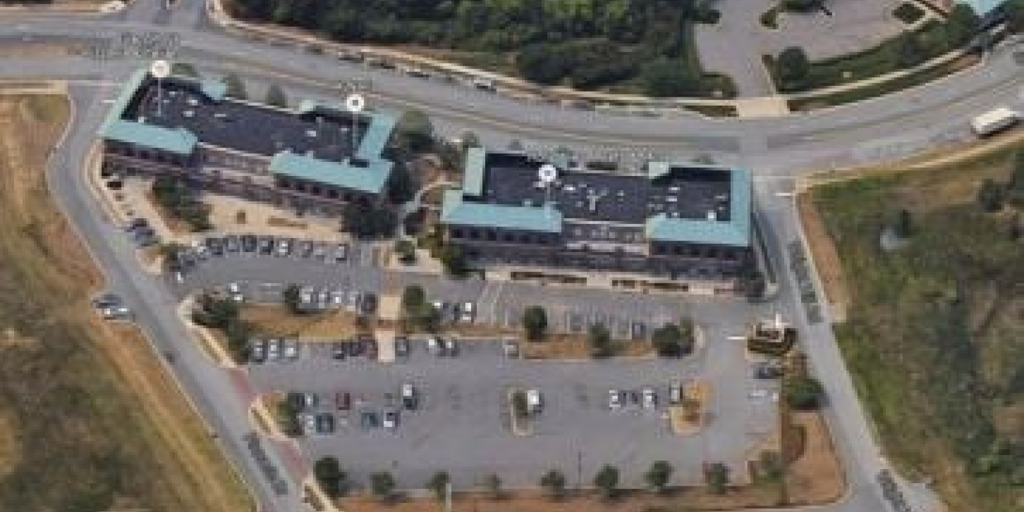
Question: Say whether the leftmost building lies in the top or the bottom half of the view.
top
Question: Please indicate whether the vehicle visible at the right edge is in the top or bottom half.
top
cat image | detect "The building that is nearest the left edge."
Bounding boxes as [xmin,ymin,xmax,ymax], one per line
[102,69,404,220]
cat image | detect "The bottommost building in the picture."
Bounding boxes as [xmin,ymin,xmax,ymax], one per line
[442,146,751,283]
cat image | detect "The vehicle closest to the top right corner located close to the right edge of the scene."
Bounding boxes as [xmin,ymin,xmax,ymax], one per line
[973,107,1018,135]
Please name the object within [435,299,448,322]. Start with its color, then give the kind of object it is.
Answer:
gray vehicle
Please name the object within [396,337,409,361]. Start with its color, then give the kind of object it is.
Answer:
gray vehicle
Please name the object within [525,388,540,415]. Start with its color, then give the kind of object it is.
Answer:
white vehicle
